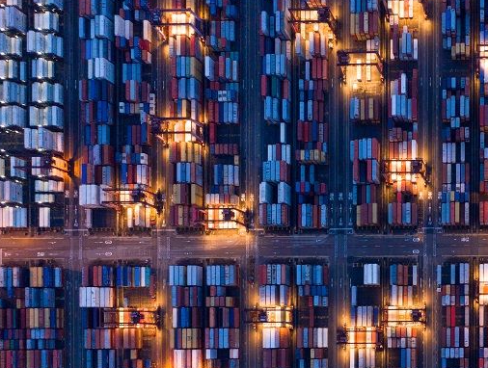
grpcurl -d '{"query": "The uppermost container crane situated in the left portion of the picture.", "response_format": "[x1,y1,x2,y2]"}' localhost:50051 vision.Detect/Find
[148,8,205,41]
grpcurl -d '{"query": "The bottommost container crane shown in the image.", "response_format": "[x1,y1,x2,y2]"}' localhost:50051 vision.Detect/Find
[335,327,382,346]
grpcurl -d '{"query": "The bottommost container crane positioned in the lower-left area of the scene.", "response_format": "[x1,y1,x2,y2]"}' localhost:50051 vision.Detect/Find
[100,307,163,327]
